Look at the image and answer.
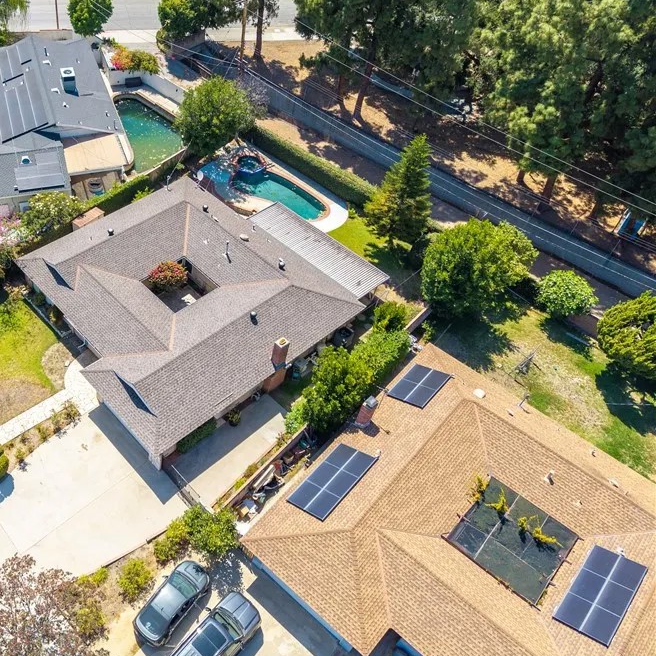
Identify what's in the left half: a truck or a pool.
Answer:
pool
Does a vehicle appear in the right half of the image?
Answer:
No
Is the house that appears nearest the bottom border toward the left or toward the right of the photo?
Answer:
right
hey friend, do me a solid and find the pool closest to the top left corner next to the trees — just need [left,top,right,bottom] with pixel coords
[111,91,189,173]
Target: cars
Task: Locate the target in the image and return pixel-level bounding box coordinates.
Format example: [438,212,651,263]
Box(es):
[179,597,263,656]
[135,561,211,651]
